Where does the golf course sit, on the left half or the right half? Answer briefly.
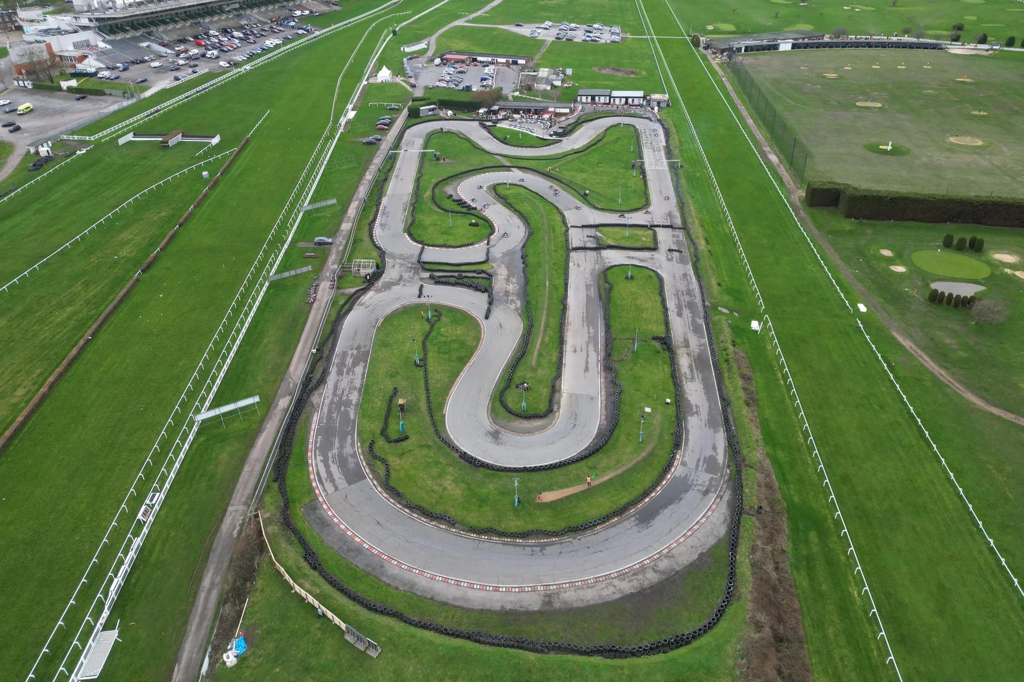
right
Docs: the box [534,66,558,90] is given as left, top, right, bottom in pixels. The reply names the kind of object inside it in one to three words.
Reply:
shed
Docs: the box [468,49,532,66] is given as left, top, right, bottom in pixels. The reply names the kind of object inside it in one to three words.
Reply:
building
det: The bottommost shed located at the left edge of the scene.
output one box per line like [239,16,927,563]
[13,134,52,154]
